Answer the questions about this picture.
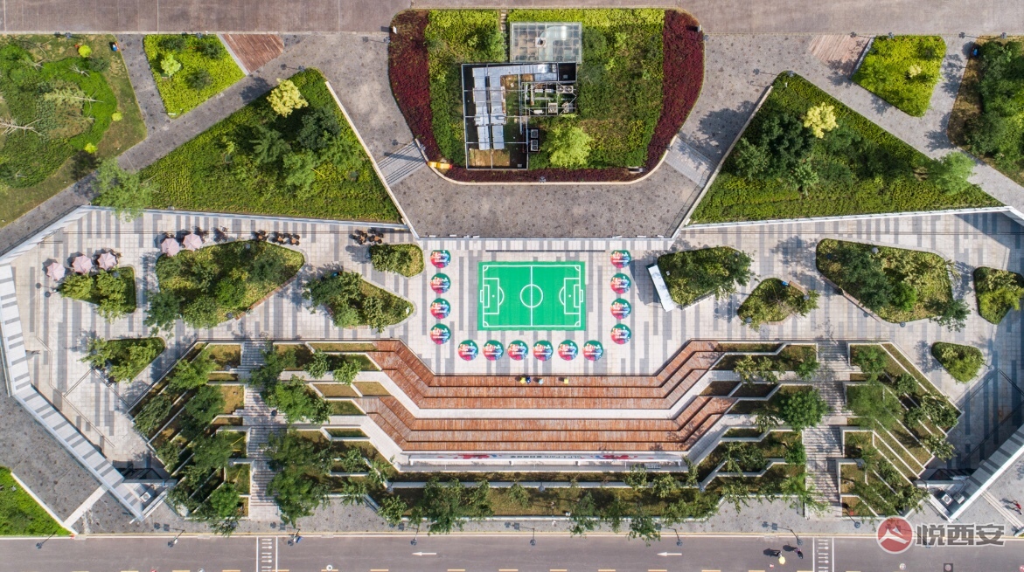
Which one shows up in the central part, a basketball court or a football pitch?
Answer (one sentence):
The feature located in the central part is a football pitch.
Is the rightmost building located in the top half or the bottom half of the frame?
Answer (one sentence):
Seen from above, the rightmost building lies in the bottom half of the view.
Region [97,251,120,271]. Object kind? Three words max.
umbrella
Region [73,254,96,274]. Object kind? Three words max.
umbrella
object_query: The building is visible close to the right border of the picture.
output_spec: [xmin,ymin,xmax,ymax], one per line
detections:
[910,464,978,521]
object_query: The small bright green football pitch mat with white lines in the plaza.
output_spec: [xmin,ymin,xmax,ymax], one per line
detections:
[478,261,585,331]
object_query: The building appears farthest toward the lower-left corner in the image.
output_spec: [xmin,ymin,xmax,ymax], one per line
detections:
[113,463,180,518]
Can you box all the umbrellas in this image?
[182,231,203,251]
[73,254,96,274]
[46,262,70,281]
[160,237,181,256]
[97,251,120,271]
